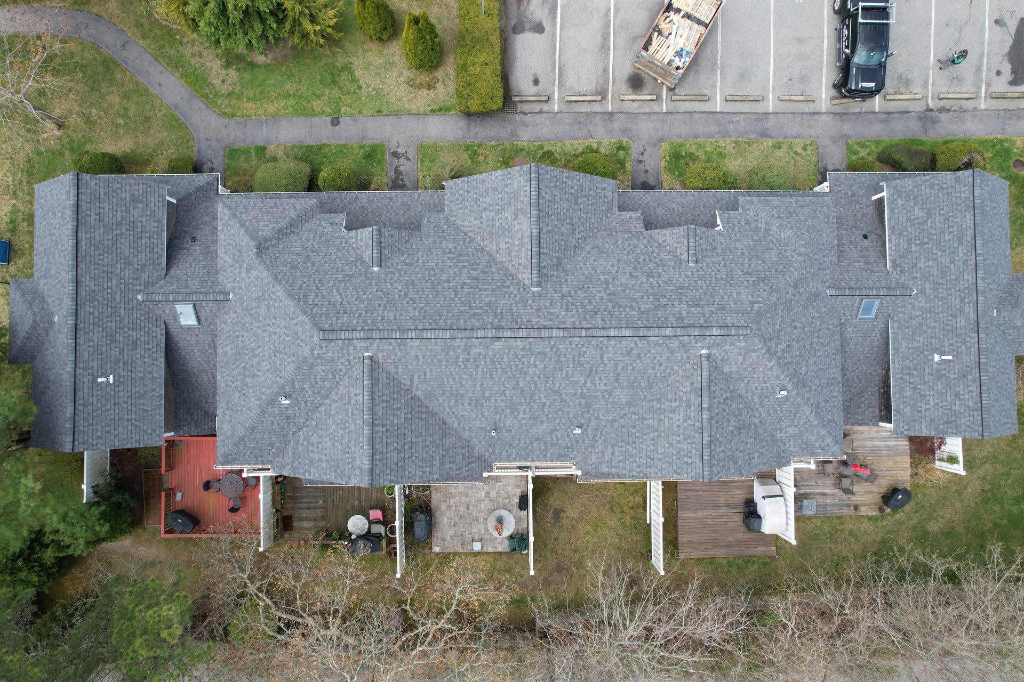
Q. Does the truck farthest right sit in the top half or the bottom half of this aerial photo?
top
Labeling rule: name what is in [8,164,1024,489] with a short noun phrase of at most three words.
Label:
building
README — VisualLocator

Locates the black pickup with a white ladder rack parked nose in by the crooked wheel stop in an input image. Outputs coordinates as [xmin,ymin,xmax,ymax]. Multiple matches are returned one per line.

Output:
[833,0,898,103]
